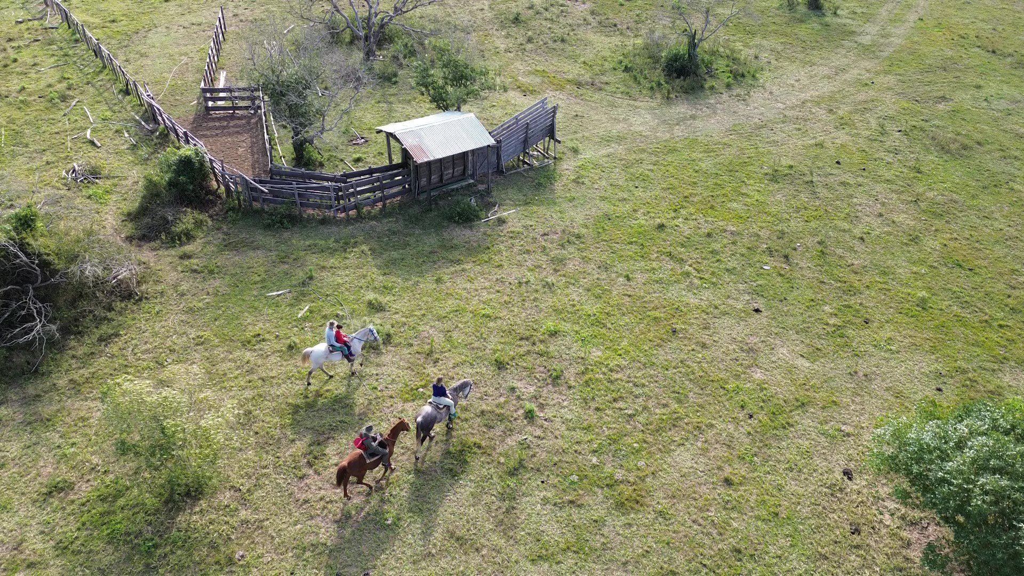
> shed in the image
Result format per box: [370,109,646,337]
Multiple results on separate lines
[371,112,504,210]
